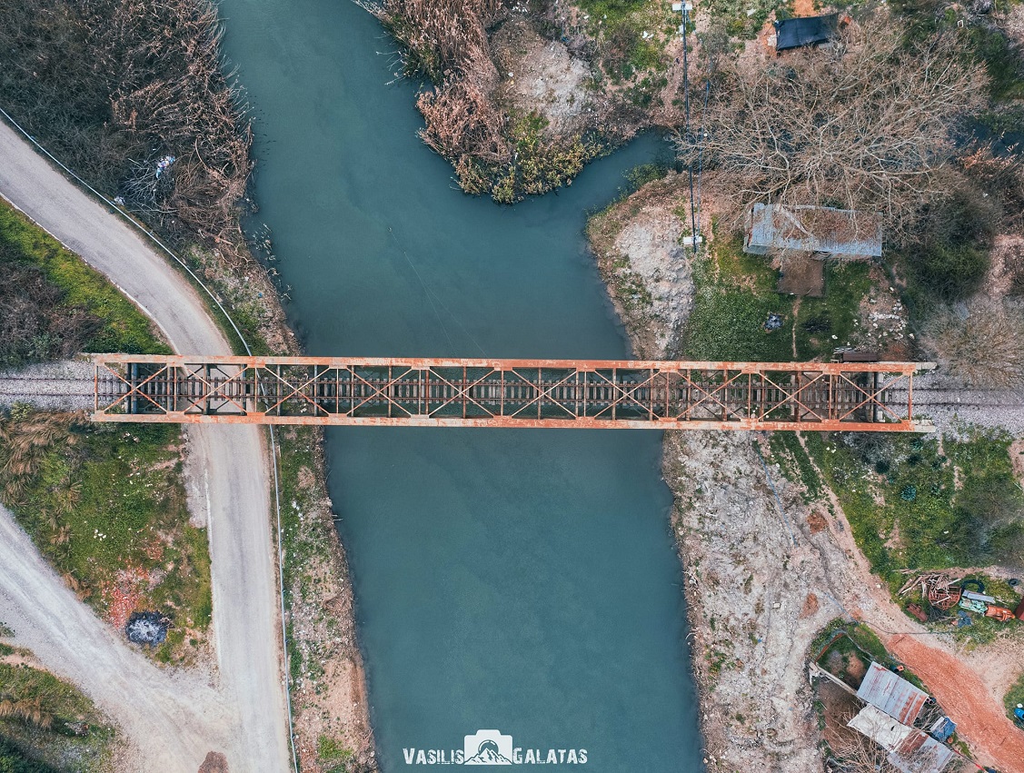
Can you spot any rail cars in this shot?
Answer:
No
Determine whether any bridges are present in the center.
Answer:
Yes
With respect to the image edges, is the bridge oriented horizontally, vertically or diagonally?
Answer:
horizontally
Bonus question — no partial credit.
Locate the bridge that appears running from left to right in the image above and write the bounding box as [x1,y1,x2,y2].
[88,355,915,433]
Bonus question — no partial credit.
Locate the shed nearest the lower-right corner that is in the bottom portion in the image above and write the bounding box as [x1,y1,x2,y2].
[874,722,954,773]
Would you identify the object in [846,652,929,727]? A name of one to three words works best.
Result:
shed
